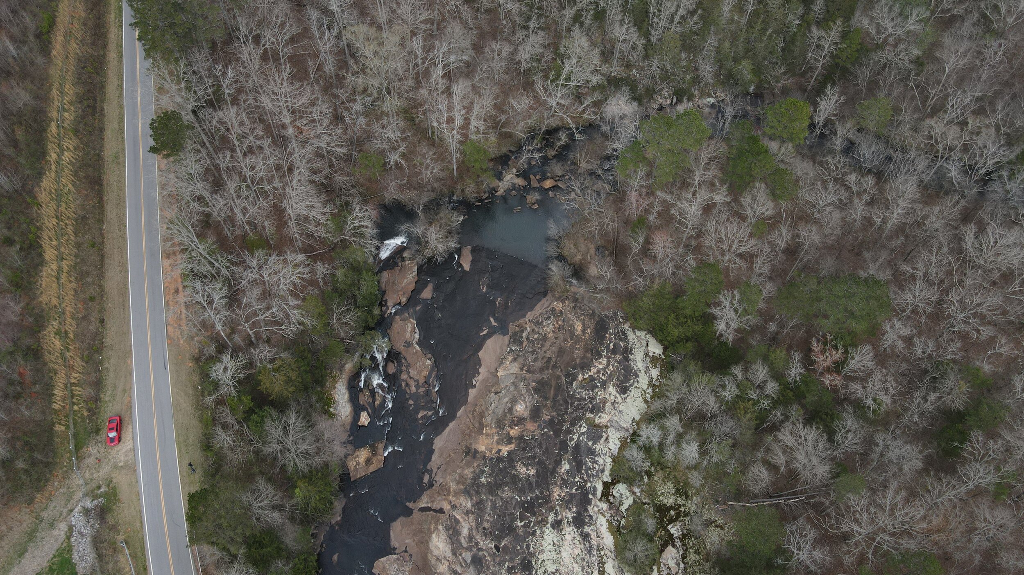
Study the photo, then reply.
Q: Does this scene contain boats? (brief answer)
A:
No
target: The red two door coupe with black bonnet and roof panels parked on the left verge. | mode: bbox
[105,416,123,447]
